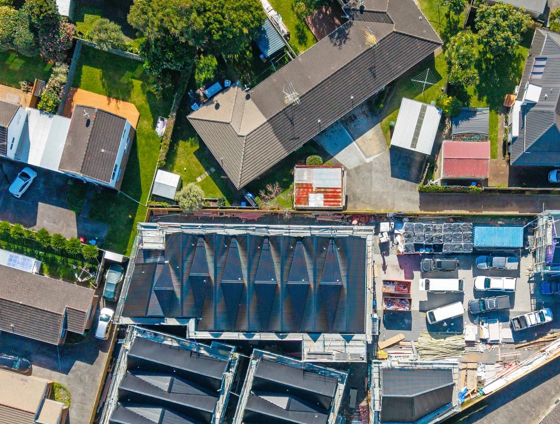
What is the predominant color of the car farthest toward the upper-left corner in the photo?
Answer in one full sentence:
The color of the car farthest toward the upper-left corner is blue.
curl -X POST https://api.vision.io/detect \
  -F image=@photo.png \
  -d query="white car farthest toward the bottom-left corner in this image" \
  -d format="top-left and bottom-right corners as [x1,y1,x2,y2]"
[93,306,116,341]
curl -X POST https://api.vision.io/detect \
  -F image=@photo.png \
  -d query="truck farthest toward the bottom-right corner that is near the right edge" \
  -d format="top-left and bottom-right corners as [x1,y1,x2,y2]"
[509,307,555,332]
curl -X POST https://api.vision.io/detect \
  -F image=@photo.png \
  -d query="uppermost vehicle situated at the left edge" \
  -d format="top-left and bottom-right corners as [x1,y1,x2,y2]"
[9,165,36,199]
